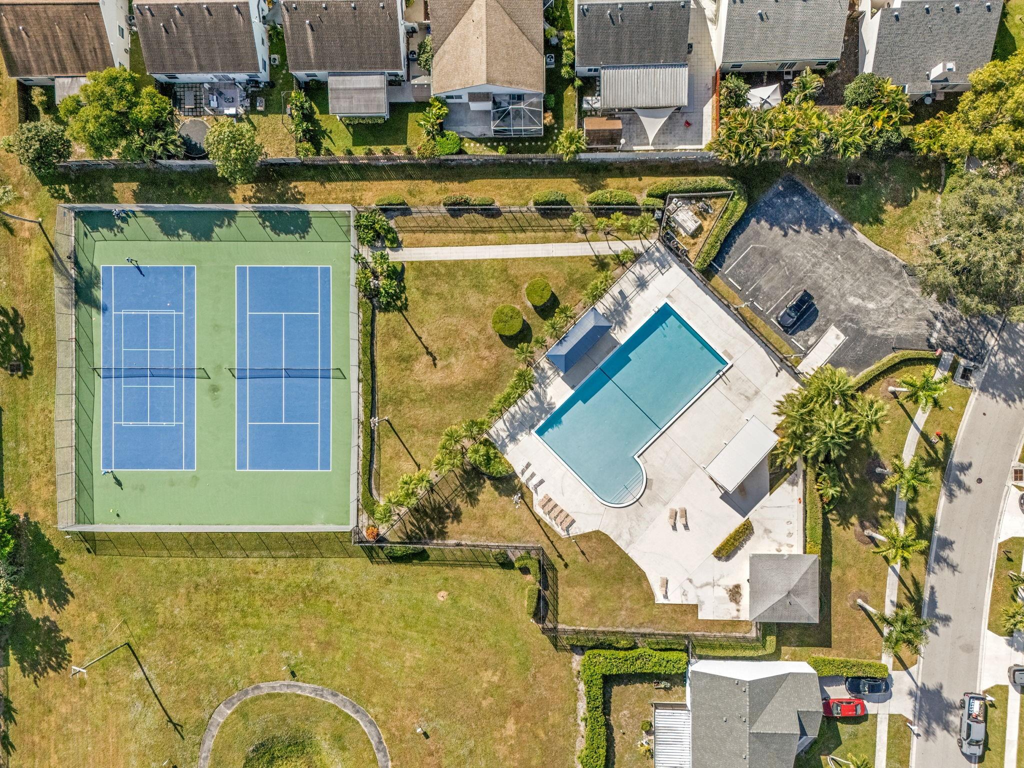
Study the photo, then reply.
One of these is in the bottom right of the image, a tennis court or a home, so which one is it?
home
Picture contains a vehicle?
Yes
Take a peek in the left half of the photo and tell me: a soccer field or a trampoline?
trampoline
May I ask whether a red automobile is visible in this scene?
Yes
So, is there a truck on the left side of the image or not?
No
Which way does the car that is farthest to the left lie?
at an angle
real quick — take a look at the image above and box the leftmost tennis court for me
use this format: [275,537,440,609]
[75,211,215,525]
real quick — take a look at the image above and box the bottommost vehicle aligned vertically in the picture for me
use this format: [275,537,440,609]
[961,693,989,753]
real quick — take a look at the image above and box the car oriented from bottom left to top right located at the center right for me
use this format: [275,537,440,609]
[779,289,815,330]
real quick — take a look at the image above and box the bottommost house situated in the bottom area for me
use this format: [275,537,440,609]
[688,662,823,768]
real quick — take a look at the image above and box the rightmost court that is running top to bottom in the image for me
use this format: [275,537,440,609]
[215,211,357,525]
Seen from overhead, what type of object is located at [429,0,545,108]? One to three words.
house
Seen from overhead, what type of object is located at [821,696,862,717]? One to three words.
car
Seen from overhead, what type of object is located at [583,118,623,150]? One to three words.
shed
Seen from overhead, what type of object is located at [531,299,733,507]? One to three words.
swimming pool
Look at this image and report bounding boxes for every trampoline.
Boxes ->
[178,121,211,155]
